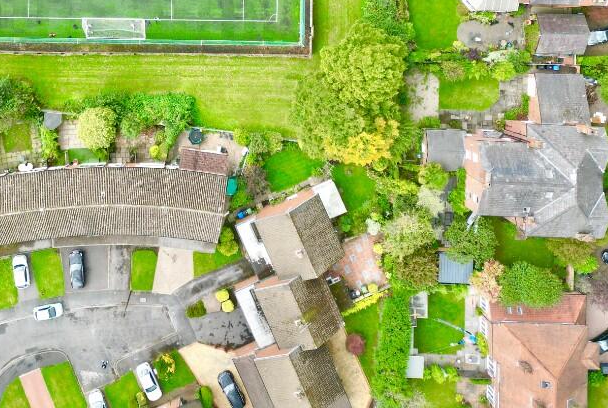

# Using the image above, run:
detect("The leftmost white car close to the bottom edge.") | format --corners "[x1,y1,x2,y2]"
[85,384,105,408]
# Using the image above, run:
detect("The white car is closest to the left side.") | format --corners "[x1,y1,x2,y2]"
[11,253,31,289]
